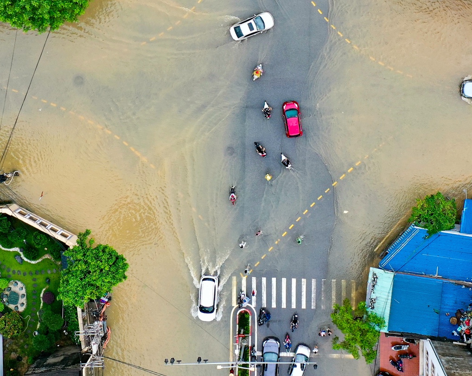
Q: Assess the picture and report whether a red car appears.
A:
Yes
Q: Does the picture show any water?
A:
Yes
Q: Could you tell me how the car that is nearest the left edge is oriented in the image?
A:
vertically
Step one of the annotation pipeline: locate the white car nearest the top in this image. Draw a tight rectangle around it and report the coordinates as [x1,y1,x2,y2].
[228,10,276,41]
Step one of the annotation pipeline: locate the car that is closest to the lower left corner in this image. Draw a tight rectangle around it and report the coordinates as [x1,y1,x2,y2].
[197,273,219,320]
